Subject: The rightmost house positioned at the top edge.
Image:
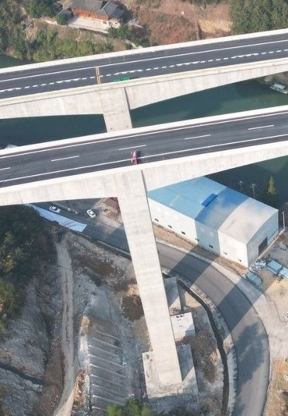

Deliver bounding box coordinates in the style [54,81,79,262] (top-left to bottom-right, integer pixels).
[72,1,133,34]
